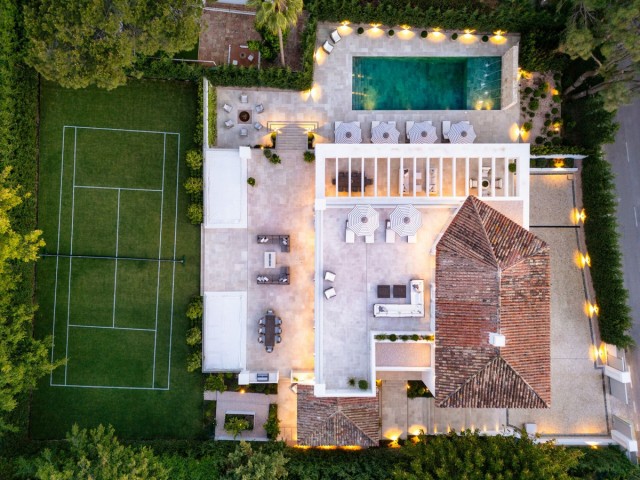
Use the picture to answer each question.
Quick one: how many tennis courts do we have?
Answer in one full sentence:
In total, there is 1 tennis court in the scene.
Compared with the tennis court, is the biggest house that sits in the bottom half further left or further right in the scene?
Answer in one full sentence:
You can see the biggest house that sits in the bottom half positioned to the right of the tennis court.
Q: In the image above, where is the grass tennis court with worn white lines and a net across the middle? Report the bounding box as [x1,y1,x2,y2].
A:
[32,99,191,415]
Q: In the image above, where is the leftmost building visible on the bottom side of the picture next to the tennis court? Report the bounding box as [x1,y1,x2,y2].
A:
[203,289,250,371]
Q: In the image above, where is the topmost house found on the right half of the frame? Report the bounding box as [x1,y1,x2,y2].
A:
[314,195,552,409]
